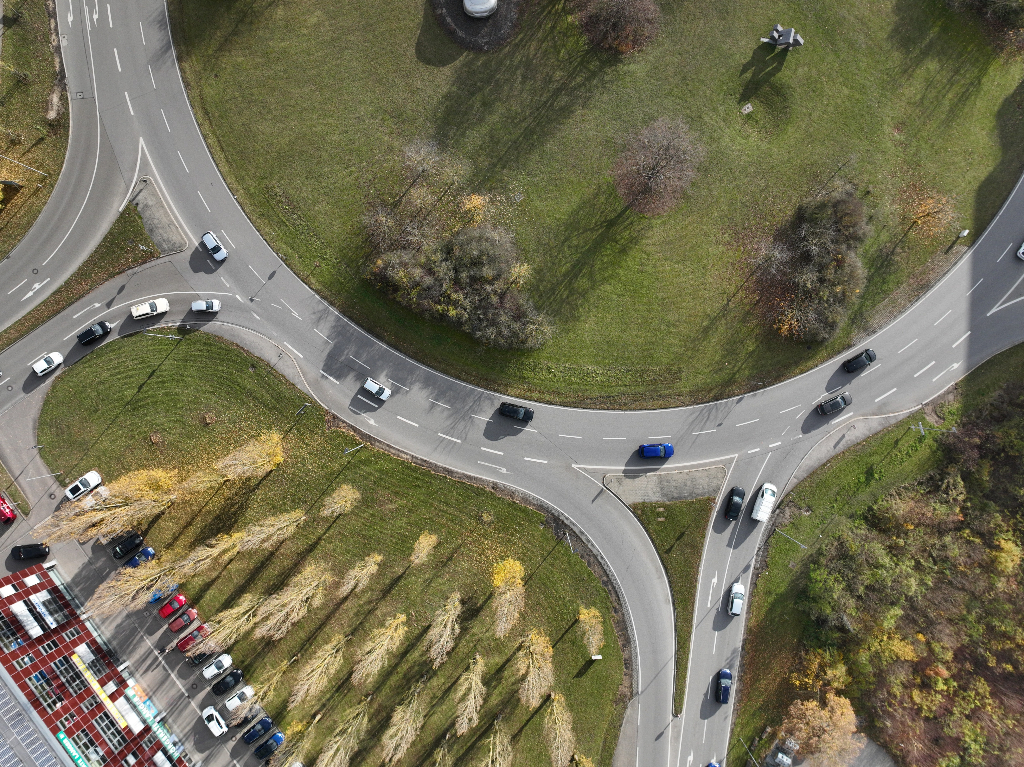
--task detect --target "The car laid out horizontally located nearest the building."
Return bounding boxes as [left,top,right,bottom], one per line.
[11,542,51,561]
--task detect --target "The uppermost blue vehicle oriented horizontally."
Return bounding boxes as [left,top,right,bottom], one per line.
[638,442,674,460]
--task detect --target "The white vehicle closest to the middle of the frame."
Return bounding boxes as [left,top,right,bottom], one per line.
[361,378,392,401]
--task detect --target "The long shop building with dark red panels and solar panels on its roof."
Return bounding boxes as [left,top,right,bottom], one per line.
[0,556,201,767]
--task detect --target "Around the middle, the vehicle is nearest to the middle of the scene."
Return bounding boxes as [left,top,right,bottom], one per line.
[499,403,533,420]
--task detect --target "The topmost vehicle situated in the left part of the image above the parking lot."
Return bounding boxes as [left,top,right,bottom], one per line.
[200,229,229,263]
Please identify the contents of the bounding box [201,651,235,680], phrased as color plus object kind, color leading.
white car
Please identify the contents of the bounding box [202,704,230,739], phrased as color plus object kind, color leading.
white car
